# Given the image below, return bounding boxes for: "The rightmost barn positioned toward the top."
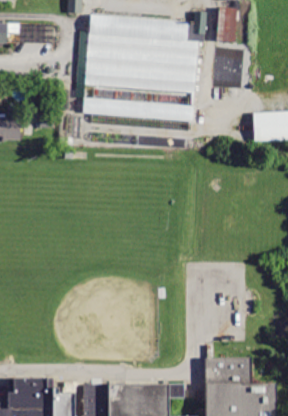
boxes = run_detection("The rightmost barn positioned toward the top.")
[254,111,288,142]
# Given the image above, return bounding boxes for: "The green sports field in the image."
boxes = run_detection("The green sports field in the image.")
[0,150,196,366]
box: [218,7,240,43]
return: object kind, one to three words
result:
shed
